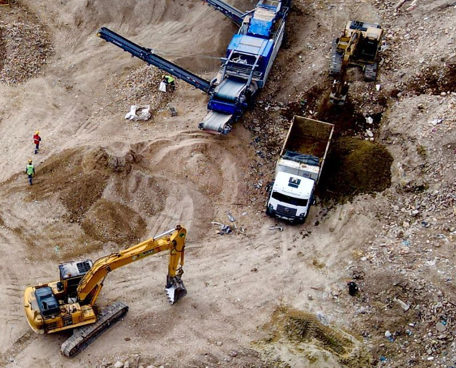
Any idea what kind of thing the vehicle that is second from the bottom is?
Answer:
truck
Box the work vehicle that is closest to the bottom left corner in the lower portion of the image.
[24,212,194,355]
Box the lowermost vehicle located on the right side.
[265,117,336,230]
